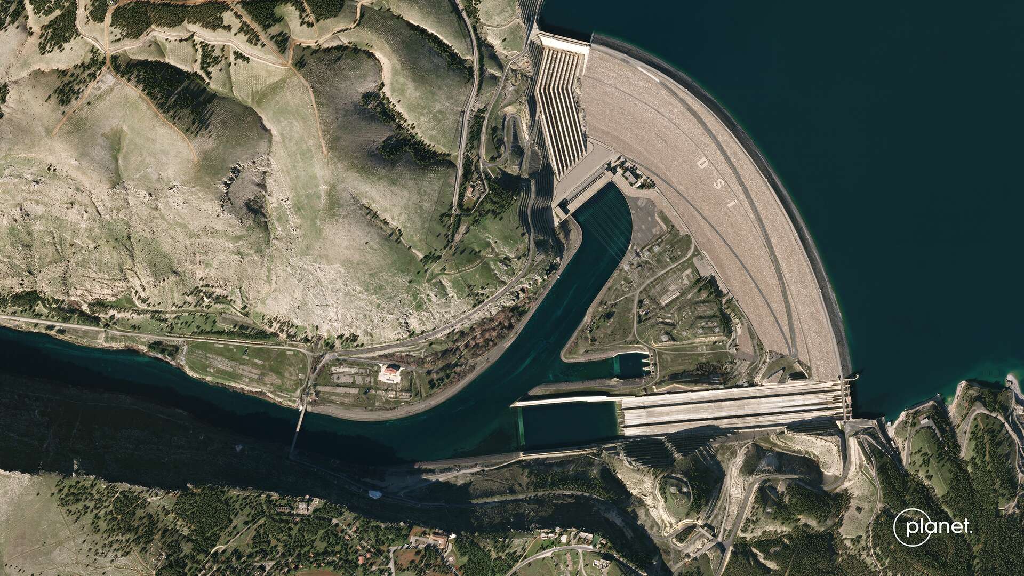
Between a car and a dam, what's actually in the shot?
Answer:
dam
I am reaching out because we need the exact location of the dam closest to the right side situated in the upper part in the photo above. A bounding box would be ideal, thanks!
[581,31,855,380]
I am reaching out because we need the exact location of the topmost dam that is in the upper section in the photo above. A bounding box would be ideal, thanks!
[538,31,594,76]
